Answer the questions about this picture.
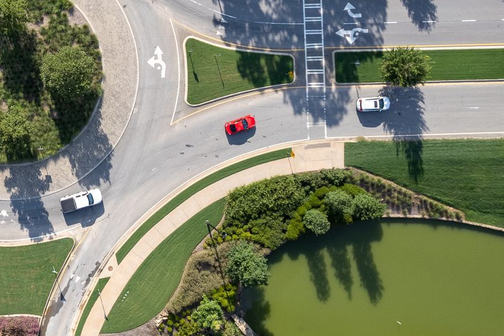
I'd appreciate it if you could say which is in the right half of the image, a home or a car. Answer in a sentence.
What appears in the right half of the image is a car.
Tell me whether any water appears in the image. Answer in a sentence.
Yes, there's water in this view.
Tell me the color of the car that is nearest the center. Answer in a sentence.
The color of the car that is nearest the center is red.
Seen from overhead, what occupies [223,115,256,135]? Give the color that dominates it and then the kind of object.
red car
